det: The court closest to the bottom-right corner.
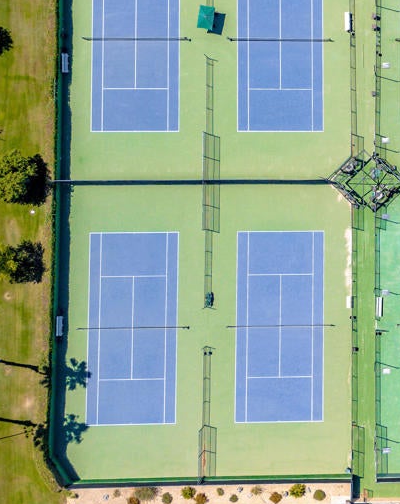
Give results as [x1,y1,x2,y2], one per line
[235,231,324,423]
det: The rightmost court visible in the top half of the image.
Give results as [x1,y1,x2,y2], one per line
[237,0,324,132]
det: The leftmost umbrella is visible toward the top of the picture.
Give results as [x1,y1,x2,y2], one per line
[197,5,215,30]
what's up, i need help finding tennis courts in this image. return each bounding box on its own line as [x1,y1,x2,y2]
[91,0,180,132]
[86,232,179,426]
[237,0,324,132]
[235,231,324,423]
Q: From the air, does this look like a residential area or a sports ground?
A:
sports ground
